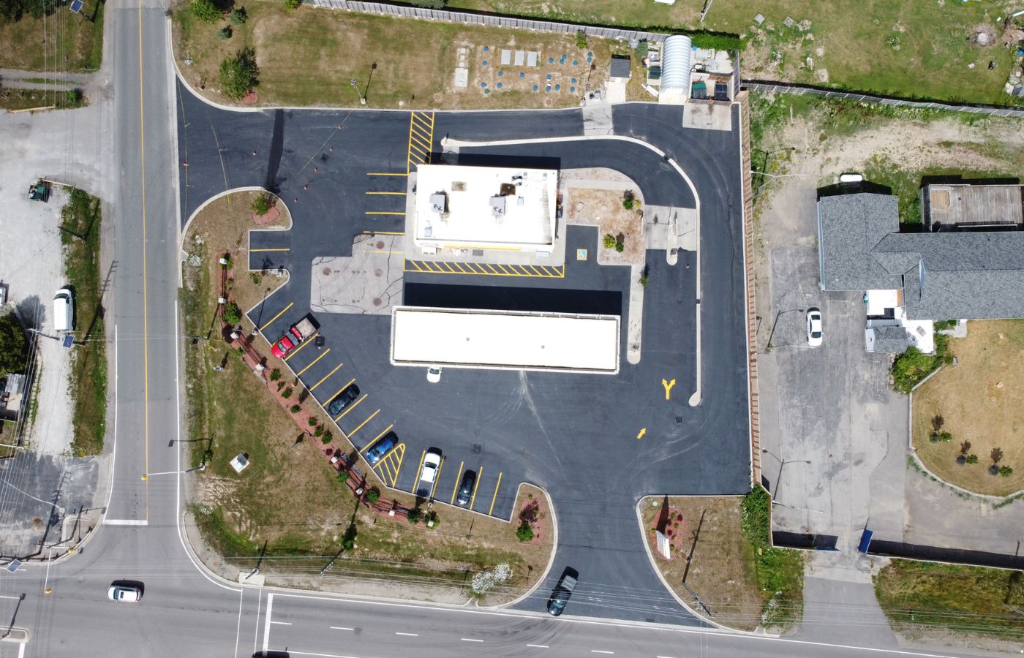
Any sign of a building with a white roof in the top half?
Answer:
Yes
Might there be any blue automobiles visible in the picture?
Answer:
Yes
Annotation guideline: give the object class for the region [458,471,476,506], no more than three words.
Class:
car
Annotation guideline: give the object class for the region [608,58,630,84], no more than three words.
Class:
shed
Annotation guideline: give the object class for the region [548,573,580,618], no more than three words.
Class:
truck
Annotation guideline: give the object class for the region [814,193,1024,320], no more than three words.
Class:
house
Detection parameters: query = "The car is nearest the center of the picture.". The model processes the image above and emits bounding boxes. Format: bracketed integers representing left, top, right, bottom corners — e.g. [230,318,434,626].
[427,366,443,383]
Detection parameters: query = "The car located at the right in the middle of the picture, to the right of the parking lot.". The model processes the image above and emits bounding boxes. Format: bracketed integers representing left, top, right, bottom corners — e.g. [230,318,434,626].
[806,311,823,346]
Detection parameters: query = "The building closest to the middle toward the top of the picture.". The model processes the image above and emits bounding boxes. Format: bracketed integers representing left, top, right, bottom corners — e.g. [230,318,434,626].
[414,164,557,254]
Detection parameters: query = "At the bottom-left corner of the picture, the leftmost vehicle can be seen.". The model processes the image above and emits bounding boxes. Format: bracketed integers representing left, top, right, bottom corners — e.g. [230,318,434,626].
[107,585,145,603]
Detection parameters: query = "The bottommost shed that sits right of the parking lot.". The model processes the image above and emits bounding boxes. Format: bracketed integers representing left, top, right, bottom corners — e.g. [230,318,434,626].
[861,327,912,352]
